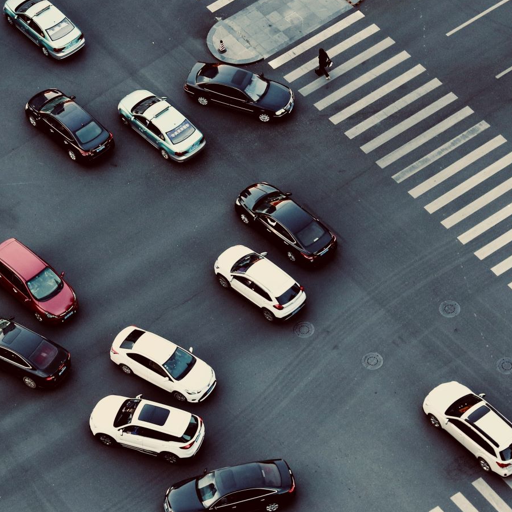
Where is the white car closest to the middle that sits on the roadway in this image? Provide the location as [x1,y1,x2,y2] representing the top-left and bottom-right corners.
[213,246,311,323]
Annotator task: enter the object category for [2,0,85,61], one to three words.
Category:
car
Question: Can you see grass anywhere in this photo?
No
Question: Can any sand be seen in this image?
No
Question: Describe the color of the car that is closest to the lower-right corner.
white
